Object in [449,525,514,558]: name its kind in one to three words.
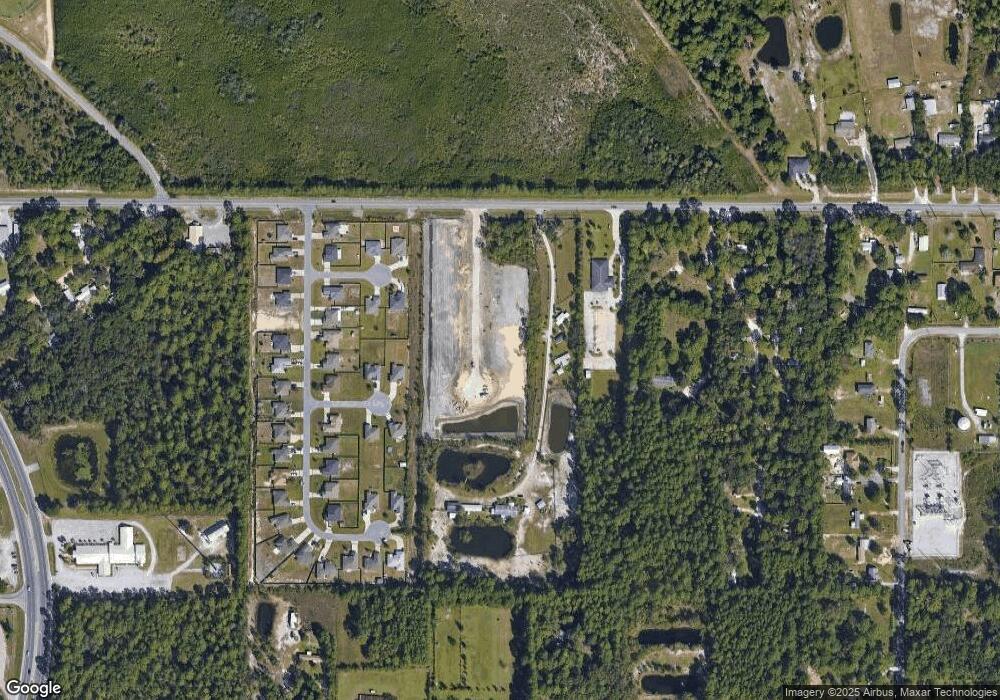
pond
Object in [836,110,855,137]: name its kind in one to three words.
house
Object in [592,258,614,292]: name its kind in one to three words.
building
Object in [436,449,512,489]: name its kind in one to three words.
pond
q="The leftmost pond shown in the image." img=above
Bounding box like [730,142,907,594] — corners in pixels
[54,433,100,488]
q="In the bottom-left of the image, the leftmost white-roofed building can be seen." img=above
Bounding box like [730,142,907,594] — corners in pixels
[72,527,145,577]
